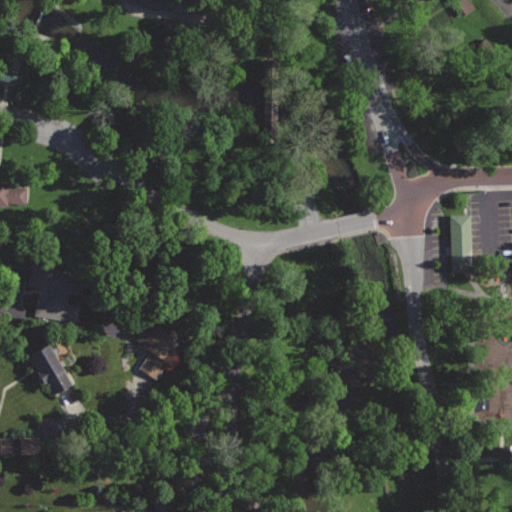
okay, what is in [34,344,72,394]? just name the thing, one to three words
house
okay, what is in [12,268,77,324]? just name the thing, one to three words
house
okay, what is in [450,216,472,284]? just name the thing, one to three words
building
